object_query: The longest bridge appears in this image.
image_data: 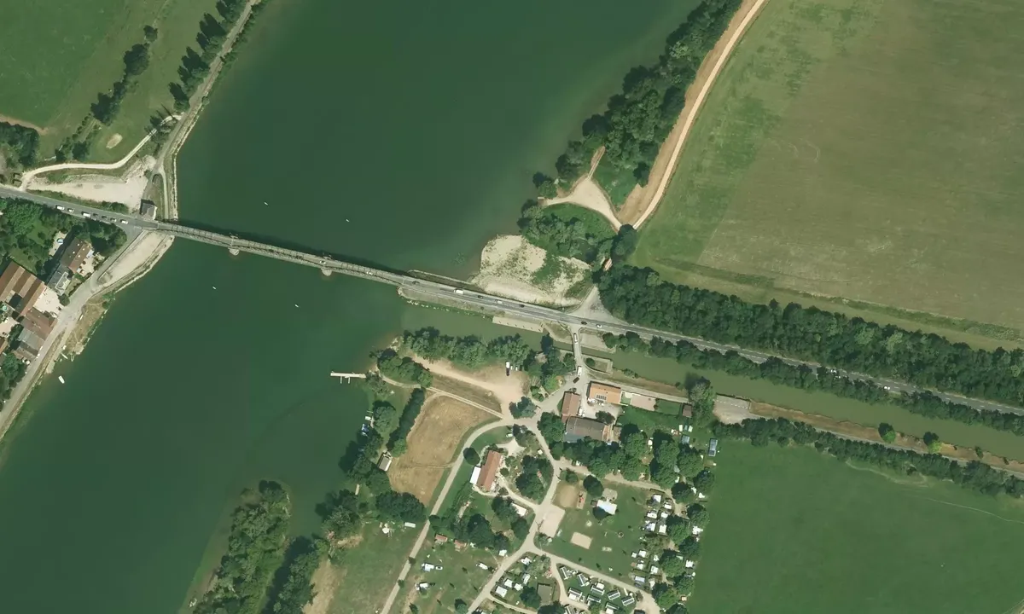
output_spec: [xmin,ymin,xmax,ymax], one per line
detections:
[163,222,409,289]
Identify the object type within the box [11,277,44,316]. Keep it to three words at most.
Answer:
house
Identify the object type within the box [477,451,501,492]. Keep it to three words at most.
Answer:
house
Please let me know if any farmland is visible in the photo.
Yes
